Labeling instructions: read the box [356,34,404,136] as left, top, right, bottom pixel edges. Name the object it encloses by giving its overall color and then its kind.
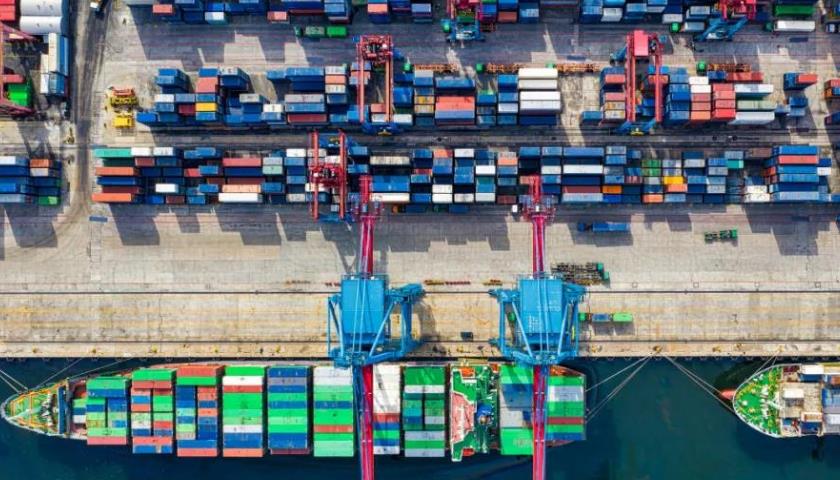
red container crane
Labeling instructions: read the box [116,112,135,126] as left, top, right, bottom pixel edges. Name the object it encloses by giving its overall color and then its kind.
yellow vehicle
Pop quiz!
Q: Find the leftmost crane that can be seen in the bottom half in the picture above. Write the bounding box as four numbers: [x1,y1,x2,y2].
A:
[327,176,427,480]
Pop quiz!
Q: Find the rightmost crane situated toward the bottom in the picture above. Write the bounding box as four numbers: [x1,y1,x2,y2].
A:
[484,176,587,480]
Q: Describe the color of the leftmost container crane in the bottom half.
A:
blue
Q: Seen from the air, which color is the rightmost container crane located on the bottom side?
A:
blue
